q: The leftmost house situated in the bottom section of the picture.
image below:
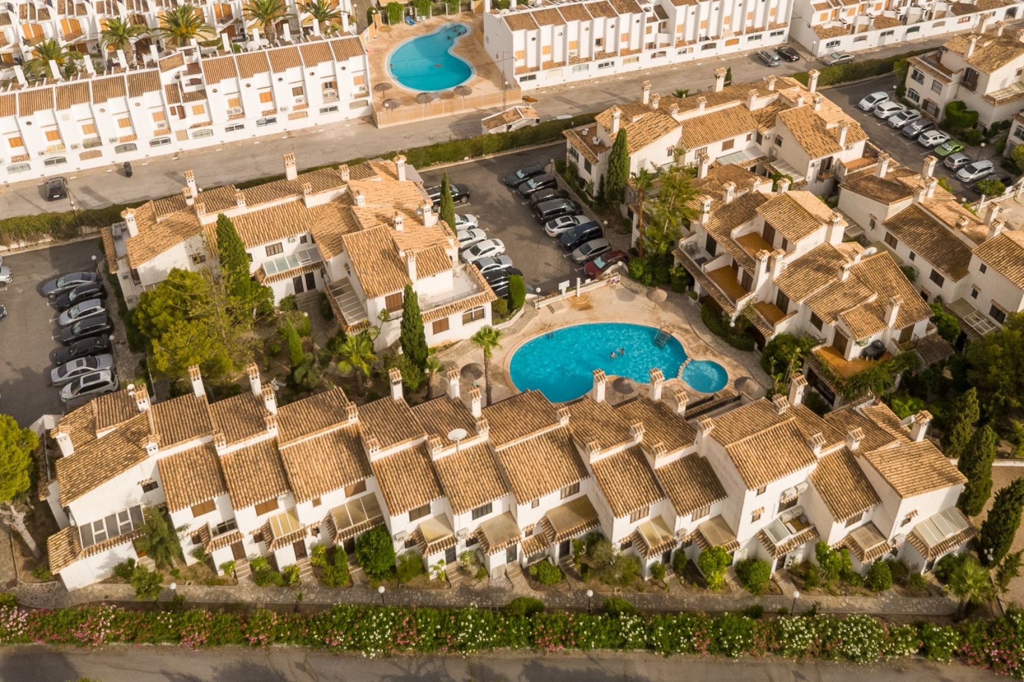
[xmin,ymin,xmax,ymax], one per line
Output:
[35,383,171,593]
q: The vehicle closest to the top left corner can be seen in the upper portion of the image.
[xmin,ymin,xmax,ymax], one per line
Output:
[46,175,68,204]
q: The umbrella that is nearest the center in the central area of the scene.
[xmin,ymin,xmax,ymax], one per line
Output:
[459,366,484,386]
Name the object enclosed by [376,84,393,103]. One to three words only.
umbrella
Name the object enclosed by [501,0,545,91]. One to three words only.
house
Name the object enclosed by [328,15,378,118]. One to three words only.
house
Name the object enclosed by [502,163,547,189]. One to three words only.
car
